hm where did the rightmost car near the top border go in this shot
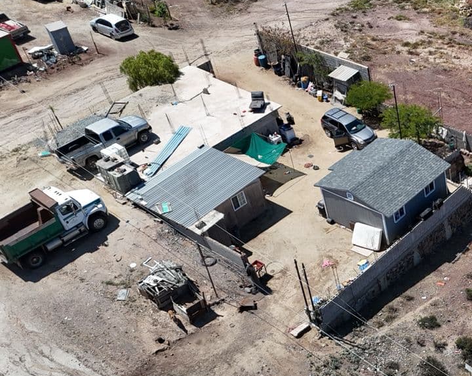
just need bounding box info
[91,15,129,39]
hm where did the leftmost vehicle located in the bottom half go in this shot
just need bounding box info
[0,192,113,275]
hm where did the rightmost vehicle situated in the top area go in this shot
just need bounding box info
[318,108,378,150]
